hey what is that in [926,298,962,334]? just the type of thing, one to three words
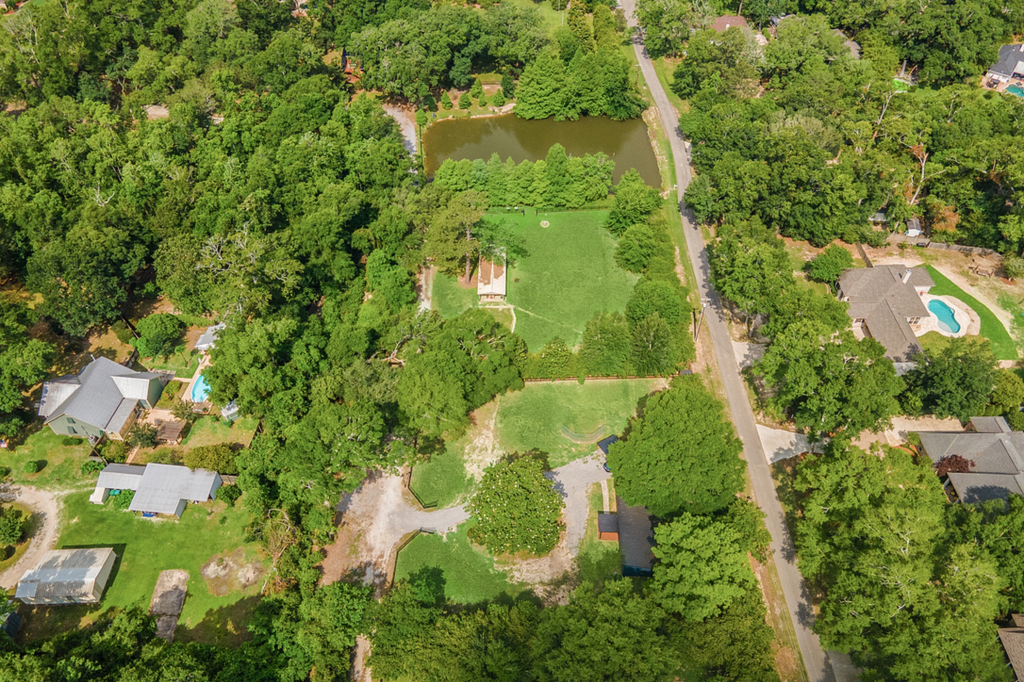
swimming pool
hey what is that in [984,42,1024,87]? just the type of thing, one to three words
house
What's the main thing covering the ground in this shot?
trees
